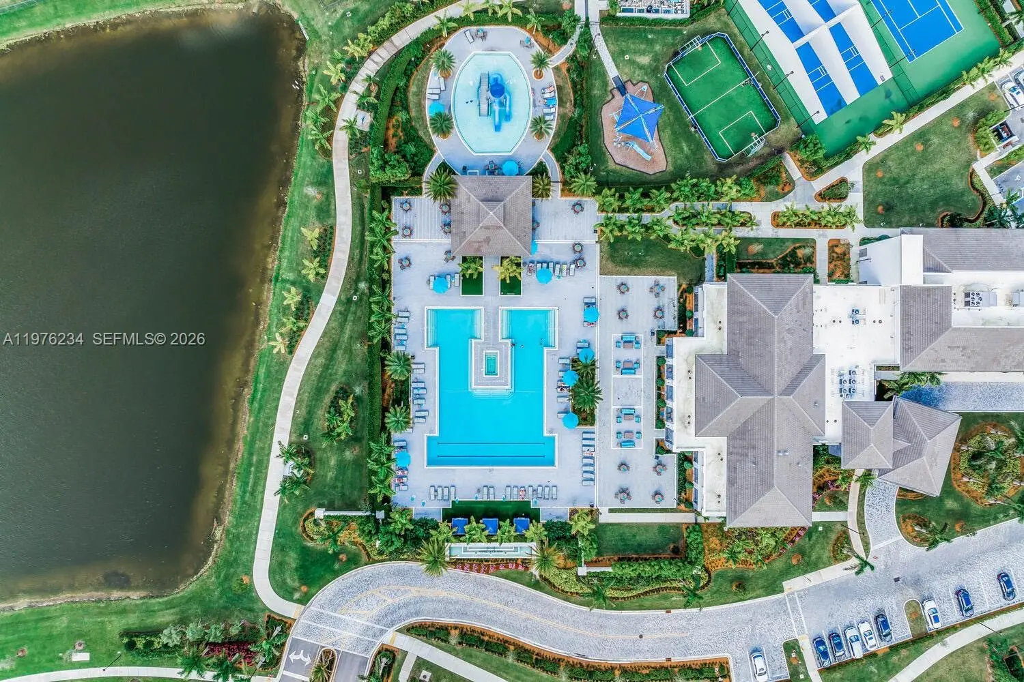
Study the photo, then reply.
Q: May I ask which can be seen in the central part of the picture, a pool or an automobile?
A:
pool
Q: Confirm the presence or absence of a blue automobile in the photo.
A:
Yes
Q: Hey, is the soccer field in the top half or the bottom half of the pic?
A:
top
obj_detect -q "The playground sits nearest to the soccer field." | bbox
[600,75,667,175]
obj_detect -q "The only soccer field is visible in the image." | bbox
[664,27,785,161]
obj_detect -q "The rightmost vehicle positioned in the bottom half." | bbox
[995,570,1017,603]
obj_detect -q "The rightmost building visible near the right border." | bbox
[863,228,1024,374]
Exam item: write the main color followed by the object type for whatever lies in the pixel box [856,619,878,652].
white car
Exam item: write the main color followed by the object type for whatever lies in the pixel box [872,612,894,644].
blue car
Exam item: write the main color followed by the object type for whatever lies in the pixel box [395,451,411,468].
blue umbrella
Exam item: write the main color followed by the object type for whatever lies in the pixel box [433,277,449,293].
blue umbrella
